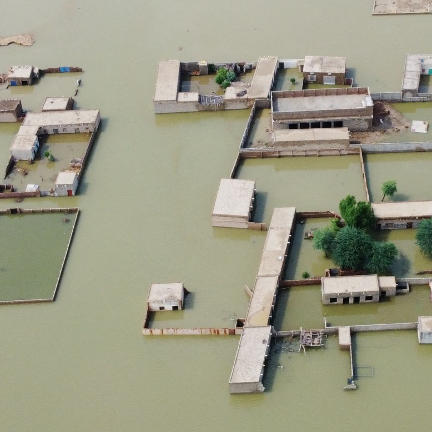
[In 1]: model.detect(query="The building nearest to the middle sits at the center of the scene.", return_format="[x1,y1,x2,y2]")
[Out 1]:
[211,179,257,228]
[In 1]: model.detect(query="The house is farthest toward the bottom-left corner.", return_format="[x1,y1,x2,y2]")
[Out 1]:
[148,282,184,311]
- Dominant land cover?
water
